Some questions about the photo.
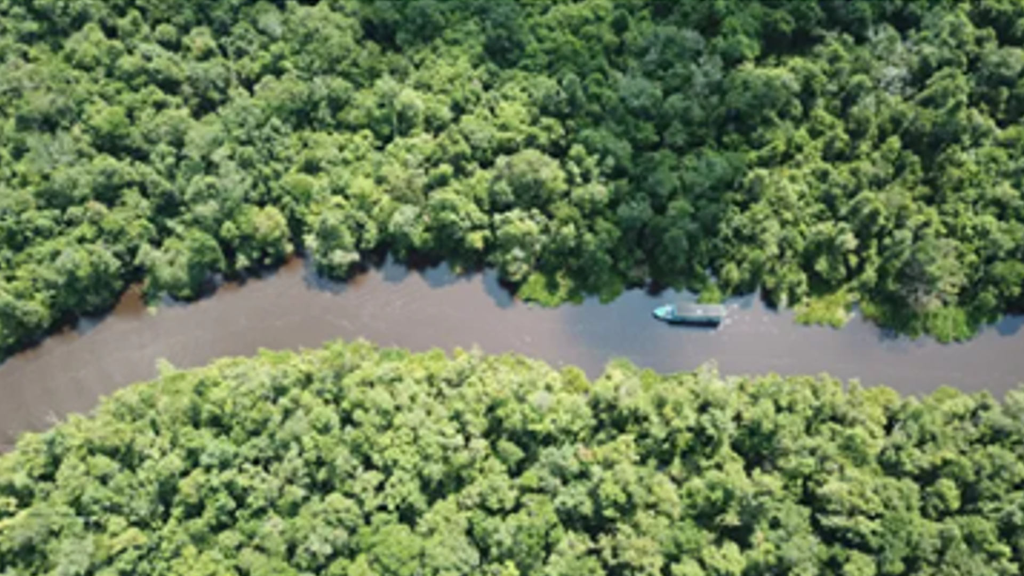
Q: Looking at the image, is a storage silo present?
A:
No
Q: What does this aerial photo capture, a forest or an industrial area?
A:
forest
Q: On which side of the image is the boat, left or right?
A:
right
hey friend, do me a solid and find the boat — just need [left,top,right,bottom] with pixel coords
[653,303,725,324]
